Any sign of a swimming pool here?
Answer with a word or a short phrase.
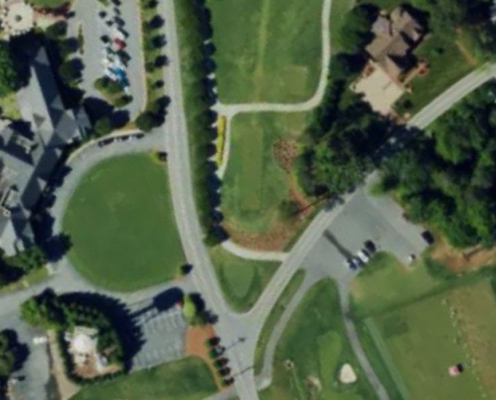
No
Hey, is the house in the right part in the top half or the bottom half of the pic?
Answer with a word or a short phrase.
top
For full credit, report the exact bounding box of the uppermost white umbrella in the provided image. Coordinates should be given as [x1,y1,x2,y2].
[73,333,90,350]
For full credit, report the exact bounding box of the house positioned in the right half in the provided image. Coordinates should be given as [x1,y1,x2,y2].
[359,2,424,86]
